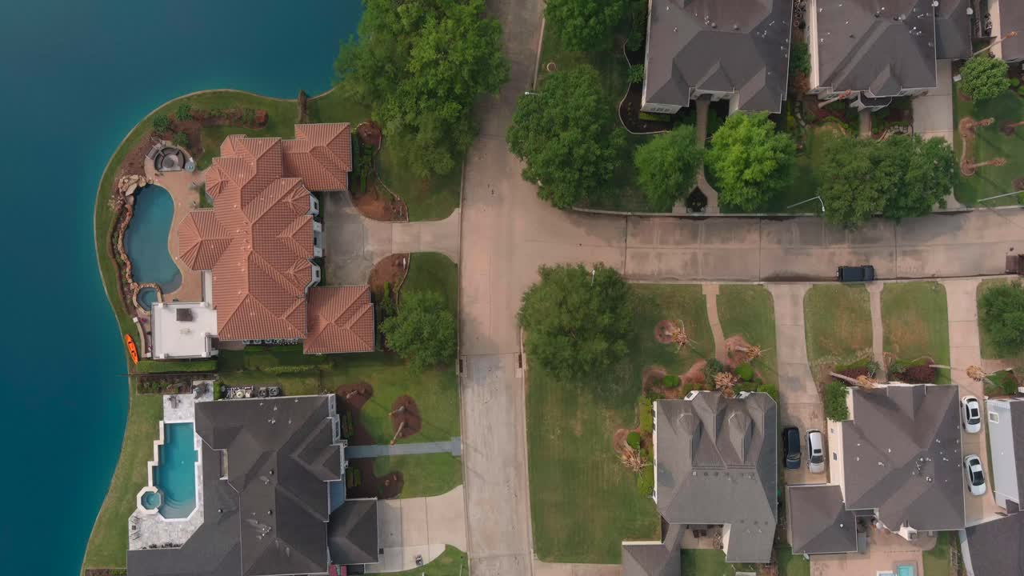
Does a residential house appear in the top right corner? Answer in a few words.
Yes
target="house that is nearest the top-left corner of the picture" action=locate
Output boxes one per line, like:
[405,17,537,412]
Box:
[152,123,375,357]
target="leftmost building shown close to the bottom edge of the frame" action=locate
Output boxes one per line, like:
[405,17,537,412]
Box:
[127,391,380,576]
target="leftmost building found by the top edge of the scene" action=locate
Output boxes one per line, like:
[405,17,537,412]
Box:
[642,0,794,120]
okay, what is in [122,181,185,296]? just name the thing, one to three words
swimming pool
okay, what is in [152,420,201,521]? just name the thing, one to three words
swimming pool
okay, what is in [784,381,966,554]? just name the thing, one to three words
house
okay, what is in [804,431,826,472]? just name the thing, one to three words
car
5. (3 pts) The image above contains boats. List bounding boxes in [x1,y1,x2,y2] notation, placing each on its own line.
[126,335,138,362]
